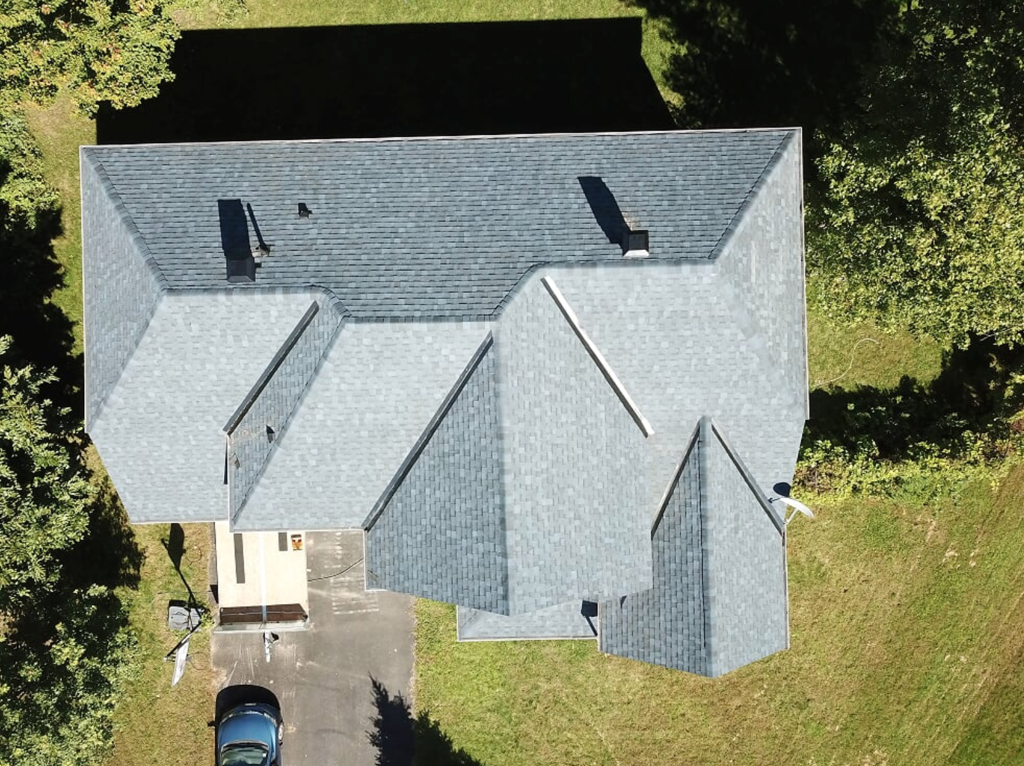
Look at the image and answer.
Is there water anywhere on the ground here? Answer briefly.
No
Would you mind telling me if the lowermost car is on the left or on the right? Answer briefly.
left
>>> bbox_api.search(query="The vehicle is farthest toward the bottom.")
[213,699,289,766]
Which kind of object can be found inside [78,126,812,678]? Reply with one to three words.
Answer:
house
